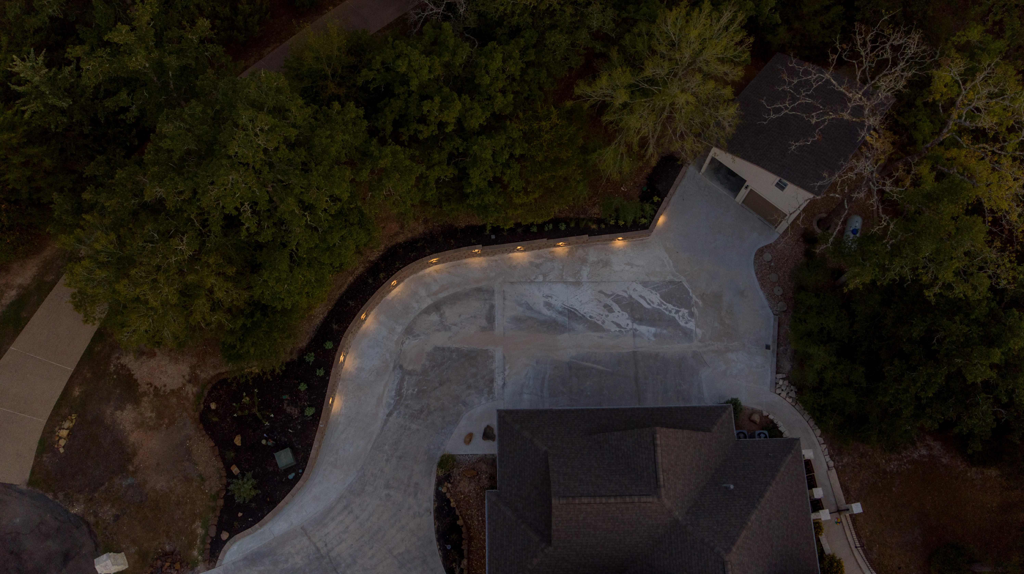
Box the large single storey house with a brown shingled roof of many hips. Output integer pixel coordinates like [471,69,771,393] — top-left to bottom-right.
[483,402,825,574]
